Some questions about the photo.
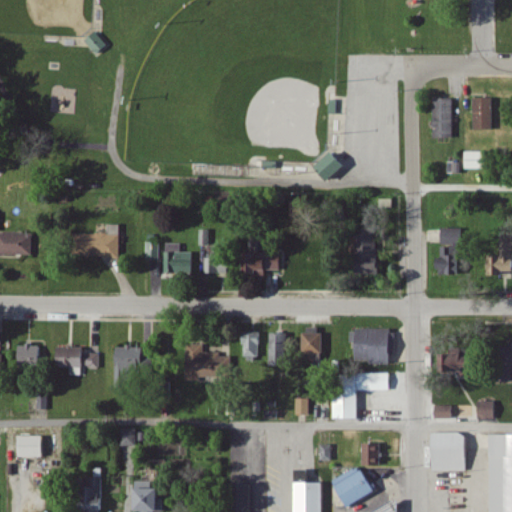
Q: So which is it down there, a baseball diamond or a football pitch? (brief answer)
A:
baseball diamond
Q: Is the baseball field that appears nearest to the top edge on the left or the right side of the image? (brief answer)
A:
left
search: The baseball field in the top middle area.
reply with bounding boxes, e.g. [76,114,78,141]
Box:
[246,78,326,158]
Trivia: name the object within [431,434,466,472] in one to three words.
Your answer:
building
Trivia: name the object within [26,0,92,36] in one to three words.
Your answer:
baseball field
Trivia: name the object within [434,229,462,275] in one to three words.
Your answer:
house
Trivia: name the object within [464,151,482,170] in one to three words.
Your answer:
building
